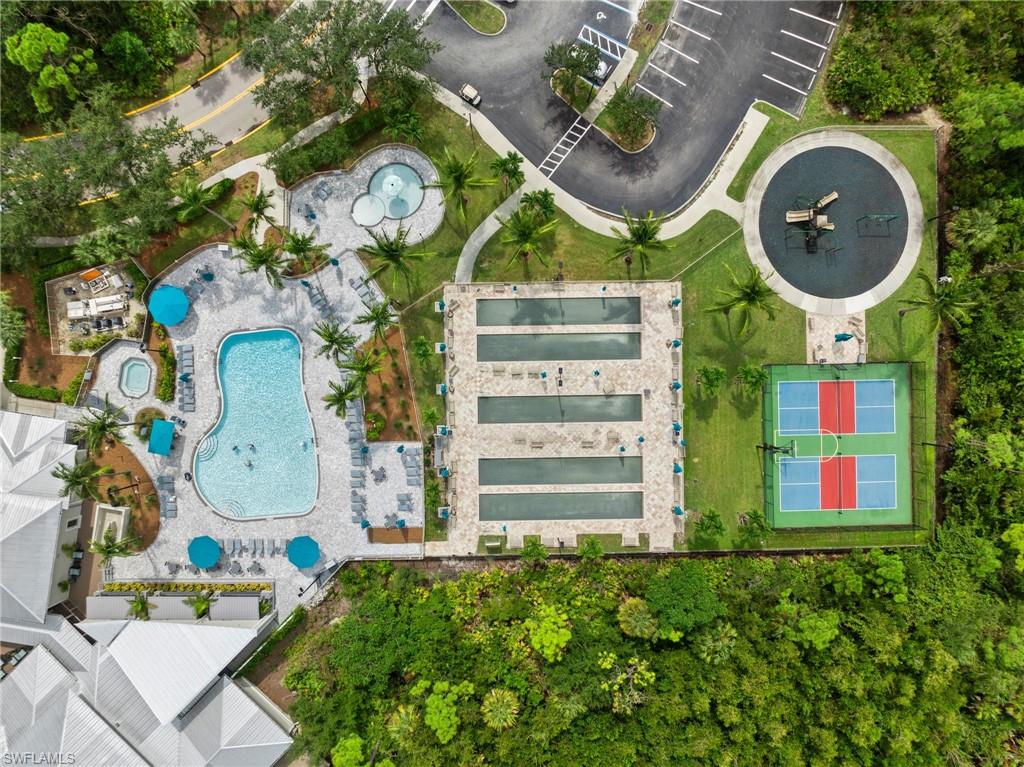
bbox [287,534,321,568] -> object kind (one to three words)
umbrella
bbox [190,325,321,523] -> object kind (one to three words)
swimming pool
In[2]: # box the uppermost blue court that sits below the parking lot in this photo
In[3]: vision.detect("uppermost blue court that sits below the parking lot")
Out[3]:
[778,379,896,436]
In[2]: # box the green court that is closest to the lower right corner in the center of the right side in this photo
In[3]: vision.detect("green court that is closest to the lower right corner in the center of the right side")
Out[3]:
[762,363,912,528]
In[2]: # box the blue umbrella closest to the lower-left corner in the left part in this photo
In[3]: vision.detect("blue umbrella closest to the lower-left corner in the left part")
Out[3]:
[188,534,223,568]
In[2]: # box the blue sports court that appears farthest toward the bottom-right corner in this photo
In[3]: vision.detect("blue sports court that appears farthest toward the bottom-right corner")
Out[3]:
[780,454,898,512]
